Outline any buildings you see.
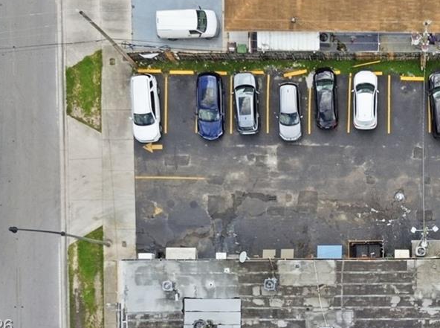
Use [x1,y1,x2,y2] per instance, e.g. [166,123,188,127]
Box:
[222,0,440,34]
[118,245,440,328]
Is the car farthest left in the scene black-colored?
No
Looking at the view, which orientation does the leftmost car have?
from top to bottom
